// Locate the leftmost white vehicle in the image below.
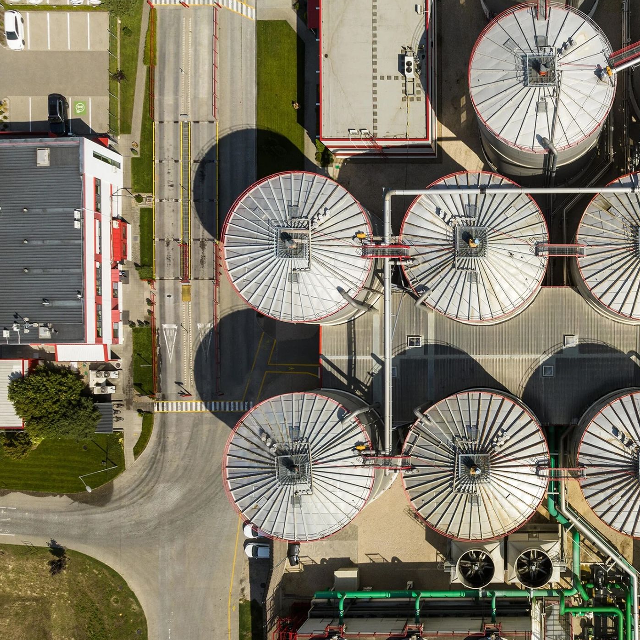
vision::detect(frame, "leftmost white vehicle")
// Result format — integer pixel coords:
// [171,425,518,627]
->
[0,8,23,47]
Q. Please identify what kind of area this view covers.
industrial area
